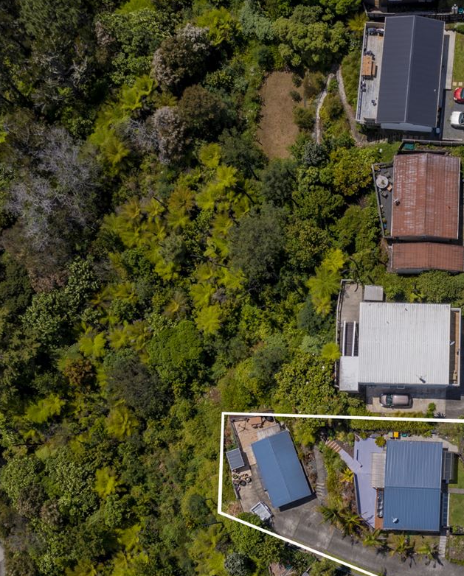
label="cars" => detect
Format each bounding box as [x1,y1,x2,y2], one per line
[453,88,464,104]
[449,109,464,129]
[380,391,413,409]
